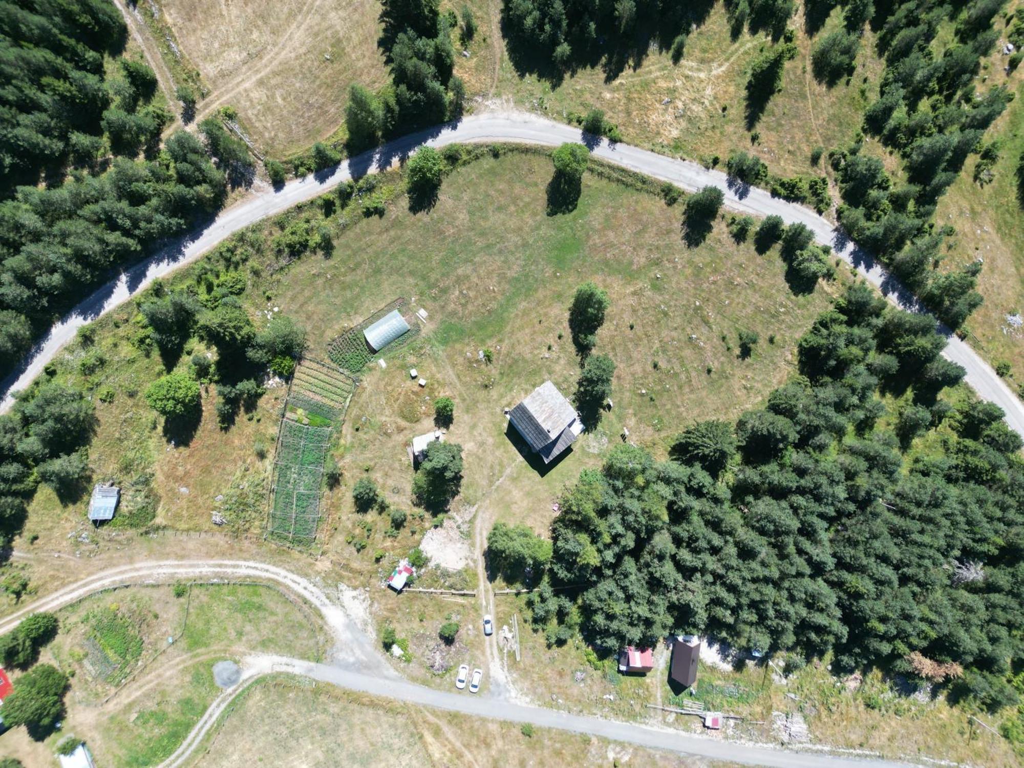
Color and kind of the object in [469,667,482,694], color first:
white vehicle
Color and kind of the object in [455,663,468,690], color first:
white vehicle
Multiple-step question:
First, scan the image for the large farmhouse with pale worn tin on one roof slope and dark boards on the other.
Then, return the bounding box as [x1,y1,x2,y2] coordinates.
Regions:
[508,381,584,463]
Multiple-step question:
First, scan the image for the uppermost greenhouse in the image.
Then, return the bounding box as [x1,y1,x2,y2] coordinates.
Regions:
[363,309,410,353]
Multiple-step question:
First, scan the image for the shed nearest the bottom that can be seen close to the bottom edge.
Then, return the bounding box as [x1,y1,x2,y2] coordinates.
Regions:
[60,740,103,768]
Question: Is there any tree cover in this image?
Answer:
Yes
